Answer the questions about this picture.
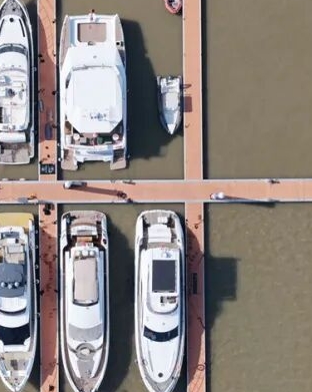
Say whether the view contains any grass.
No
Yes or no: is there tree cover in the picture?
No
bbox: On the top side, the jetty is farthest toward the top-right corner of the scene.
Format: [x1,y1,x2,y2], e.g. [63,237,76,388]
[183,0,203,180]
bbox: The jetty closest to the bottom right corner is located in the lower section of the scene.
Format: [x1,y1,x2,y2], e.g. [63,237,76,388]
[185,202,206,392]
